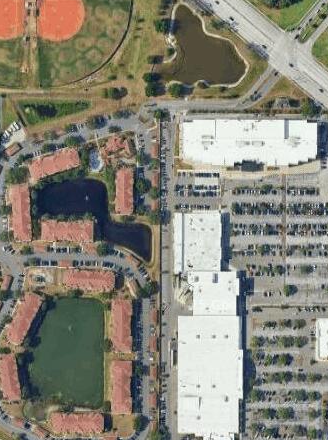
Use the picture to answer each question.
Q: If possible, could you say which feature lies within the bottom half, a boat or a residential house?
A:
residential house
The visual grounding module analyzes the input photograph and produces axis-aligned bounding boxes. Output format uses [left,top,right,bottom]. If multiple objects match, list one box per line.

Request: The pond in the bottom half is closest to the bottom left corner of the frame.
[29,297,104,409]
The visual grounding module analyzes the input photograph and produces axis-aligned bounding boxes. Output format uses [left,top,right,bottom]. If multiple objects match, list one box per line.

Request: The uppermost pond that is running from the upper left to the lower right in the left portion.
[36,179,151,261]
